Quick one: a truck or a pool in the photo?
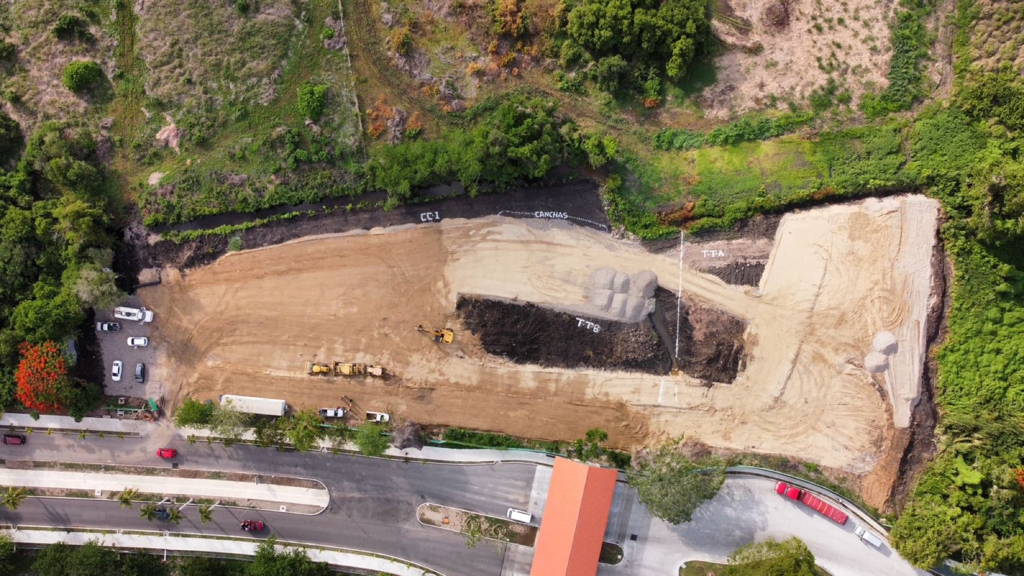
truck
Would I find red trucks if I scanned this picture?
Yes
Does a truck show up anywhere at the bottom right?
Yes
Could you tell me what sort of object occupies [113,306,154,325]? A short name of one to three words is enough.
vehicle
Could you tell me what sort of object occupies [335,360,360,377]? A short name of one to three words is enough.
work vehicle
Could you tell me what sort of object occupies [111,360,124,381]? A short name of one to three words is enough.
vehicle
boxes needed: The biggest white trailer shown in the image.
[221,393,293,415]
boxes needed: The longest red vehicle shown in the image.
[773,480,849,525]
